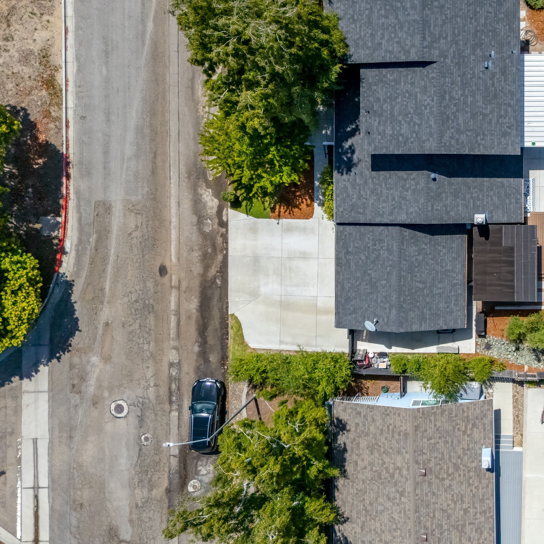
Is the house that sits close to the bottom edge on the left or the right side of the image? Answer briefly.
right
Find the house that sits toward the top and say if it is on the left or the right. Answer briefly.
right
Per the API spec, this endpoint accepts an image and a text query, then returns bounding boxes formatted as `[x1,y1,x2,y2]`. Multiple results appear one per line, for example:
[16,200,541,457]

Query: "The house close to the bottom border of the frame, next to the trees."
[331,387,495,544]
